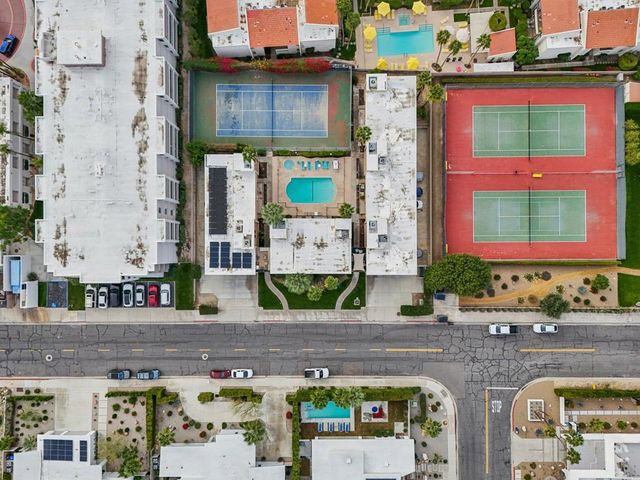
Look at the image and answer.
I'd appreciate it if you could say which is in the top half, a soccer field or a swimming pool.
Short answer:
swimming pool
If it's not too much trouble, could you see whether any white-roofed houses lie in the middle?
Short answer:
Yes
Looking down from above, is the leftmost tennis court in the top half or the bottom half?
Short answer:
top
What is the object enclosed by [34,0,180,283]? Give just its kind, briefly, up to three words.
building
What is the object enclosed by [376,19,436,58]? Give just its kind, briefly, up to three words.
swimming pool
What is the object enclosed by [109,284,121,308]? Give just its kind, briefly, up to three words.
vehicle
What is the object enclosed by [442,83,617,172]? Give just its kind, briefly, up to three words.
tennis court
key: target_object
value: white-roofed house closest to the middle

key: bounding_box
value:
[271,219,352,274]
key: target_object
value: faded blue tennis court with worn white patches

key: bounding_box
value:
[192,69,353,151]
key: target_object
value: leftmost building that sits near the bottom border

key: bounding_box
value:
[12,426,110,480]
